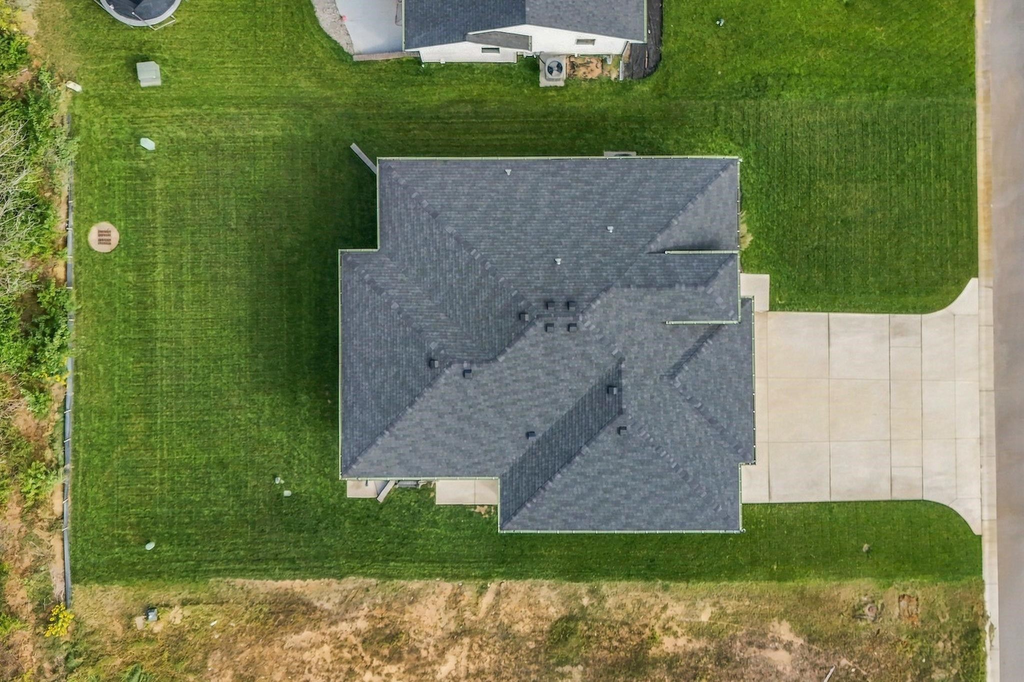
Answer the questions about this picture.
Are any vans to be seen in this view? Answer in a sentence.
No, the picture doesn't show any van.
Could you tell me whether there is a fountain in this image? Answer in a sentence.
No, the picture doesn't show any fountain.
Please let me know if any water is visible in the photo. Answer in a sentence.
No, the scene doesn't show any water.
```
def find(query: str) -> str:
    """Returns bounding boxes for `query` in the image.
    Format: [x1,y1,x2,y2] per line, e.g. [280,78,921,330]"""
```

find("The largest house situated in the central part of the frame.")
[339,157,755,533]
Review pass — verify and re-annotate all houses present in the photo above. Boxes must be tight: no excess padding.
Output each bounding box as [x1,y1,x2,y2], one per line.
[402,0,647,64]
[339,157,755,533]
